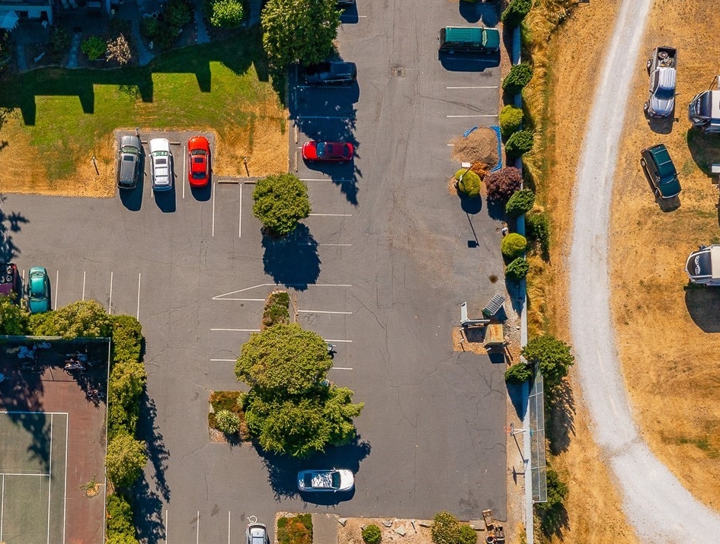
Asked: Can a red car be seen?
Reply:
Yes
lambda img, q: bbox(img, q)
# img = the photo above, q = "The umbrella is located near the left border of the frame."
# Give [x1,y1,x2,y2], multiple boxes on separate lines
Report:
[0,13,20,33]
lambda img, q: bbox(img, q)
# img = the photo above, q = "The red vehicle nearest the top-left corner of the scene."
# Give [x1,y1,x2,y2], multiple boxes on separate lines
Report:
[186,139,212,188]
